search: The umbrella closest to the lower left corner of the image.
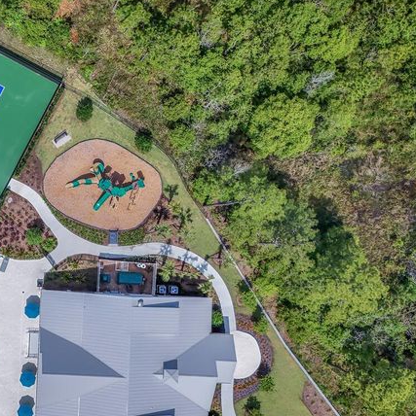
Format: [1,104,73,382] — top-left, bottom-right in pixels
[17,403,35,416]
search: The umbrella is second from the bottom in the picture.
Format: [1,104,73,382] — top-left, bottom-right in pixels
[19,368,37,385]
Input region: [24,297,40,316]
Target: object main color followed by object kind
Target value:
blue umbrella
